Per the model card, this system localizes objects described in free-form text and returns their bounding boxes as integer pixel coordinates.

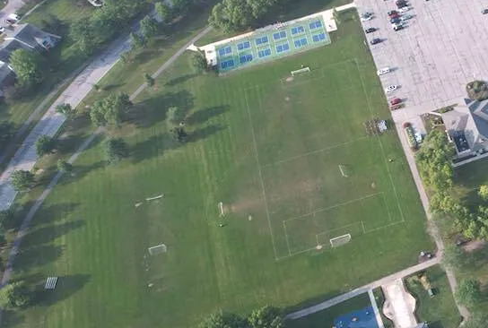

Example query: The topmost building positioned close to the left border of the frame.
[0,25,62,63]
